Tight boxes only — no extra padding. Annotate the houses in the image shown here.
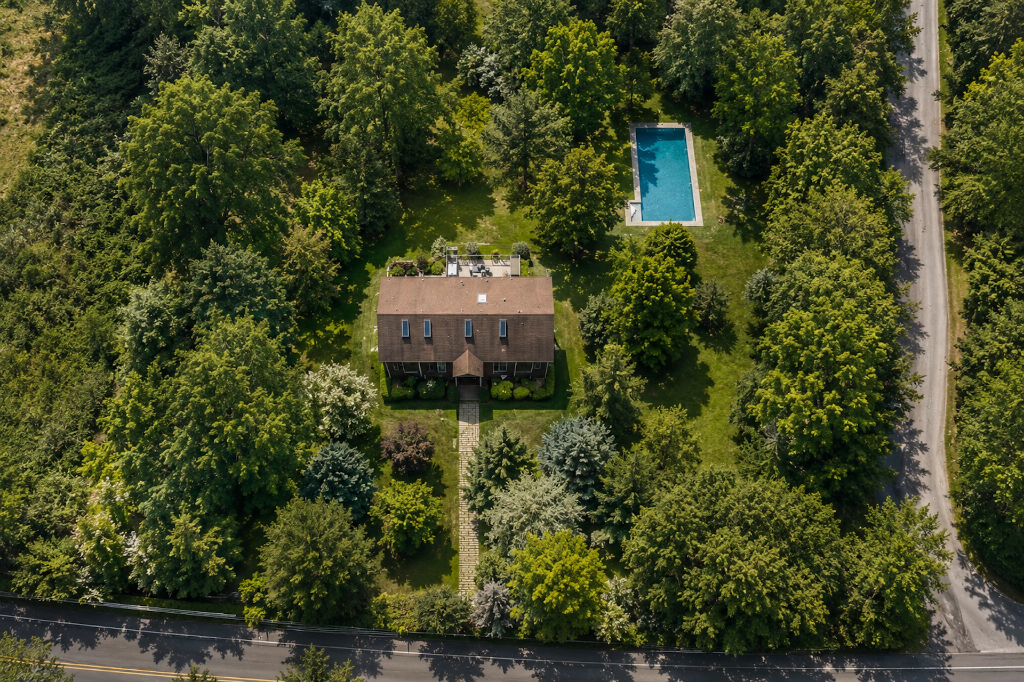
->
[377,270,554,388]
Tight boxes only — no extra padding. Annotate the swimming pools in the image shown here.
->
[623,122,703,226]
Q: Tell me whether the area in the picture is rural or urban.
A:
rural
